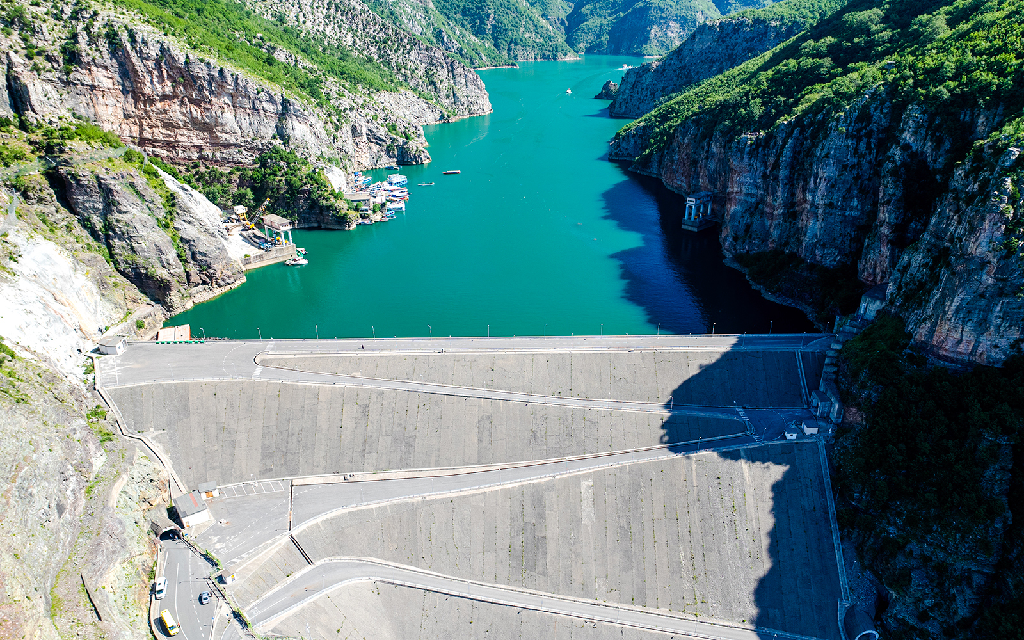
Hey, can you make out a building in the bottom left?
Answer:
Yes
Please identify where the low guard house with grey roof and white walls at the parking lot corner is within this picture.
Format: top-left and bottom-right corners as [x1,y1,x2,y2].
[94,335,126,355]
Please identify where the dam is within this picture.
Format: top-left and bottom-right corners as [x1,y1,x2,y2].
[98,330,860,640]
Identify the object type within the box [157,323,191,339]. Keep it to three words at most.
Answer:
pier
